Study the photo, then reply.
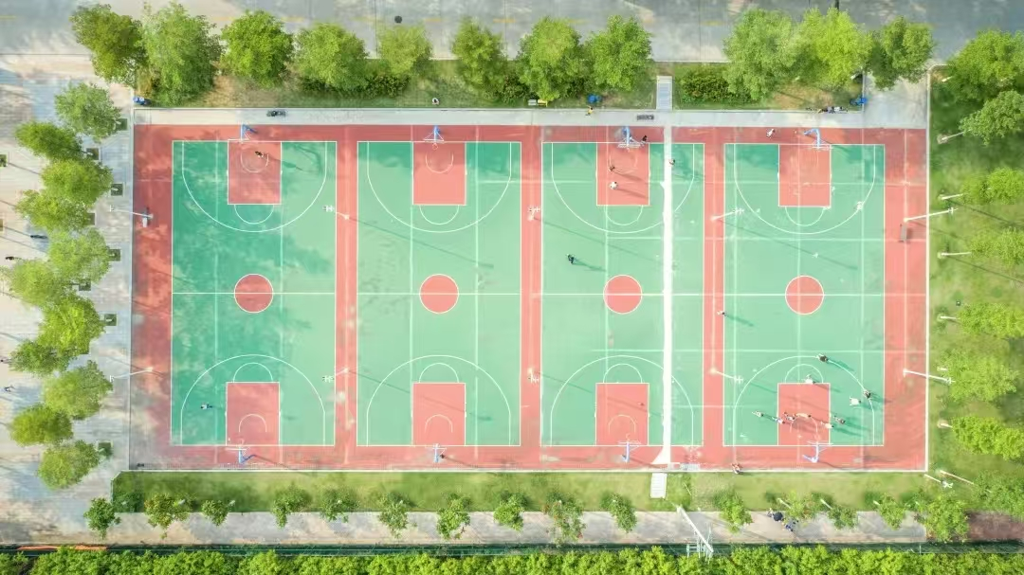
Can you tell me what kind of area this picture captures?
sports ground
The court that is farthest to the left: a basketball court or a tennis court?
basketball court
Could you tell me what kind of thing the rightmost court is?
basketball court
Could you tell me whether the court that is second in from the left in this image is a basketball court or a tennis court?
basketball court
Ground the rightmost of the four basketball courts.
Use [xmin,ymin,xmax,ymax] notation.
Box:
[723,143,885,446]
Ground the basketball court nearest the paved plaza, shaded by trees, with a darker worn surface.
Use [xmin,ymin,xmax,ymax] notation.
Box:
[170,140,337,446]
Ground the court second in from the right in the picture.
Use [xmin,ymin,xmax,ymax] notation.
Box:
[541,142,704,446]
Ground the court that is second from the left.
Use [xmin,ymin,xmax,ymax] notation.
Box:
[356,141,521,446]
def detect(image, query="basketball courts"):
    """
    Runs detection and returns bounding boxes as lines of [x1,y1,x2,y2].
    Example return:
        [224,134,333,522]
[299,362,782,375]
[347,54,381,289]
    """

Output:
[541,142,704,446]
[356,141,521,446]
[723,143,885,446]
[170,140,337,446]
